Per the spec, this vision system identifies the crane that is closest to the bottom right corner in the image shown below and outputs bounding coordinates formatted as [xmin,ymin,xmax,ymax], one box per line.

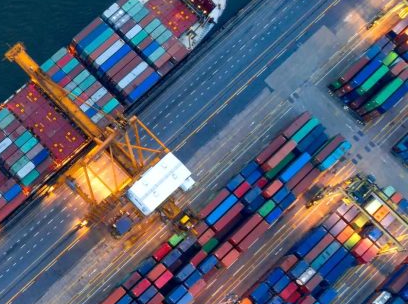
[307,171,408,259]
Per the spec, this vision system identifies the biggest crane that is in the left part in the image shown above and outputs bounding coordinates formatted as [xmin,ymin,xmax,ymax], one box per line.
[3,35,198,232]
